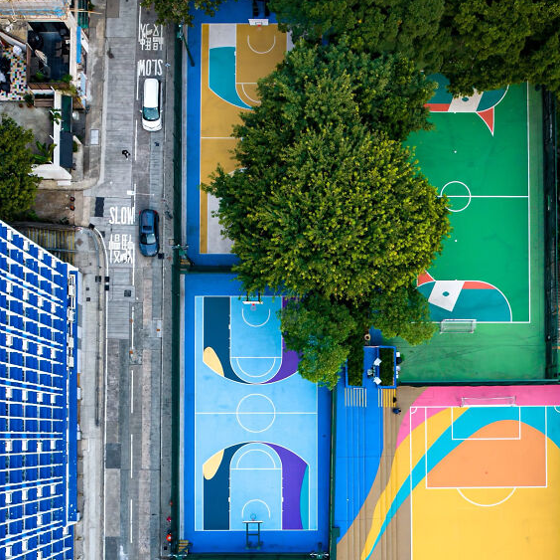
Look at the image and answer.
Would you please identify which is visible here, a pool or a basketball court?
basketball court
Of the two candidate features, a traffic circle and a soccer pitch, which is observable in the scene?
soccer pitch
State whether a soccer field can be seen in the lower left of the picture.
No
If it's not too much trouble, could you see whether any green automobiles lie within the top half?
No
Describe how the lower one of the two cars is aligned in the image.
from top to bottom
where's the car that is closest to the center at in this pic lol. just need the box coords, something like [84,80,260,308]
[136,209,159,259]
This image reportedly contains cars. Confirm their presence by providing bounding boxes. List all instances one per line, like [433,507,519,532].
[136,209,159,259]
[138,75,161,130]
